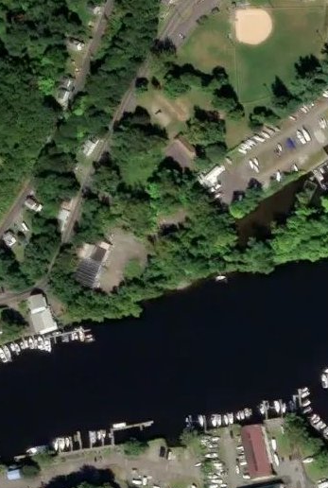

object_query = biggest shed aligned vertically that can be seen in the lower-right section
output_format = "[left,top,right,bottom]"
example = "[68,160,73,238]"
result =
[240,425,274,477]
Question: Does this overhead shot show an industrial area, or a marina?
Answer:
marina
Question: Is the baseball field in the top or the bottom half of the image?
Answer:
top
